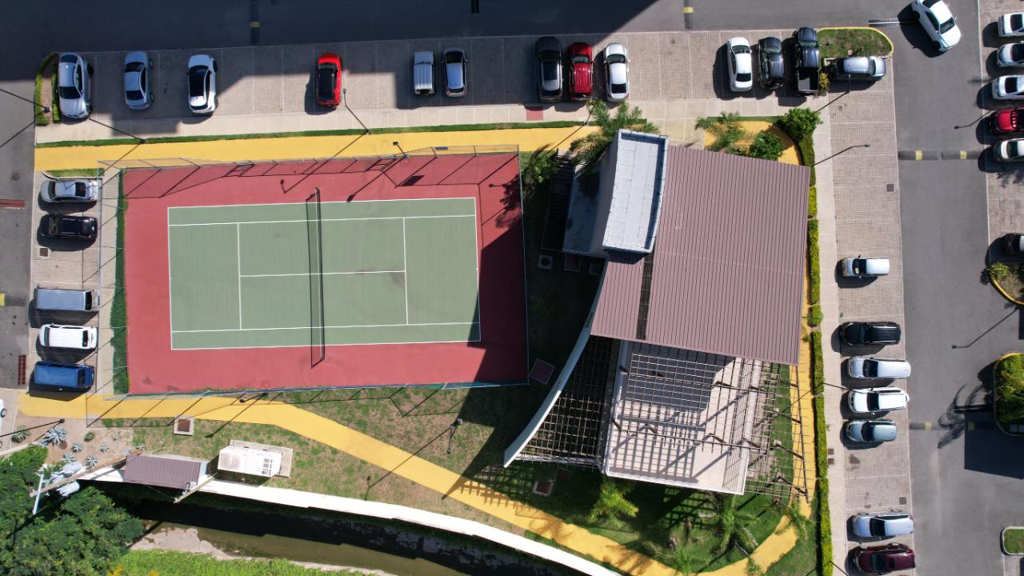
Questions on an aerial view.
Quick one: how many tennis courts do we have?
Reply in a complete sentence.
Just 1 tennis court appears in this view.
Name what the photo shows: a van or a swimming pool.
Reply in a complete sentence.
Visible in the photo is a van.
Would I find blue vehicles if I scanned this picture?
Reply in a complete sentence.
Yes, there's a blue vehicle here.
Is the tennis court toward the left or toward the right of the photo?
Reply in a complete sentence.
The tennis court appears in the left half of the scene.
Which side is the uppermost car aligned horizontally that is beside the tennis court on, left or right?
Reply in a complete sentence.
It is on the left.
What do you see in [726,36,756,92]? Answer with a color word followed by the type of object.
white car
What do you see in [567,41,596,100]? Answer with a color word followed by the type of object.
red car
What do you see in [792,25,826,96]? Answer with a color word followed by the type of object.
black truck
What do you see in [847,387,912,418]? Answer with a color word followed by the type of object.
white car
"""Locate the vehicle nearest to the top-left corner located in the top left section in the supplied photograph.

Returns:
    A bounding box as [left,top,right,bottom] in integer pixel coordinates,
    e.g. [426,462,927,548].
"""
[54,51,90,118]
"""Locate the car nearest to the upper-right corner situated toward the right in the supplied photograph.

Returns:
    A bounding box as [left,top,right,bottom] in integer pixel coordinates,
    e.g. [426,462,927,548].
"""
[997,12,1024,39]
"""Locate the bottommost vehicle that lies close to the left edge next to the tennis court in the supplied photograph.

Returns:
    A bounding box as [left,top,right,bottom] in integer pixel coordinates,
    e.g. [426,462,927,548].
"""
[34,362,99,391]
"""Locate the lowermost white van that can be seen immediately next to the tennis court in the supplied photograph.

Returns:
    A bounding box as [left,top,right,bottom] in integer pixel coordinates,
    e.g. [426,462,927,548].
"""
[40,322,99,351]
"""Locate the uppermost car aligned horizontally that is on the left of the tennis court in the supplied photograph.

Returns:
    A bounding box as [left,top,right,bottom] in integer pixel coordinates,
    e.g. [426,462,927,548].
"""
[39,176,99,204]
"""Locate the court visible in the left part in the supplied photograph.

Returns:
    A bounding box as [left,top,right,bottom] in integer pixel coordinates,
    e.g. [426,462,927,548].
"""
[121,153,528,394]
